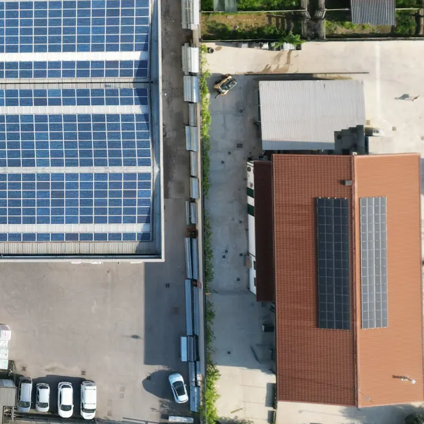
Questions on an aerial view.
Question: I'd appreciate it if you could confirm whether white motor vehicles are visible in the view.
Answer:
Yes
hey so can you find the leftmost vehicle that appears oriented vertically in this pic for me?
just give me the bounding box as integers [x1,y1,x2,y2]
[17,376,34,412]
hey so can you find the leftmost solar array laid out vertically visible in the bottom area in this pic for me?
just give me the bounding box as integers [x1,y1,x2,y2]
[317,200,353,329]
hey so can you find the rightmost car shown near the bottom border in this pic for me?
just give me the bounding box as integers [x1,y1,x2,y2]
[167,369,189,405]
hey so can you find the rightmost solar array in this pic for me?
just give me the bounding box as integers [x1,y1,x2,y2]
[360,200,388,329]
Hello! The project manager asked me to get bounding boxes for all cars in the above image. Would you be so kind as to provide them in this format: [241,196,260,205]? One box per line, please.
[80,380,97,418]
[167,369,189,405]
[58,380,74,417]
[17,376,34,412]
[35,381,51,412]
